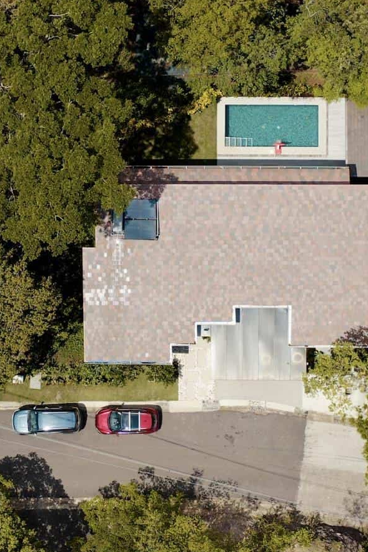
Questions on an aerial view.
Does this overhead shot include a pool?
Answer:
Yes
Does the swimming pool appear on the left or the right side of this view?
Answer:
right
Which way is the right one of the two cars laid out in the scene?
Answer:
from left to right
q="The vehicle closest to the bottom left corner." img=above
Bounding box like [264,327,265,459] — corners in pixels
[10,408,81,440]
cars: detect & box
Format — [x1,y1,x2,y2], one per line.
[95,408,157,440]
[10,408,81,440]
